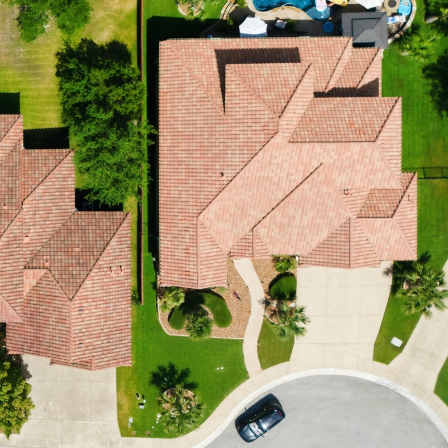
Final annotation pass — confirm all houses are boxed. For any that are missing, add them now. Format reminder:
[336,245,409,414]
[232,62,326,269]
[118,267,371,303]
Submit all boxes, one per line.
[159,36,419,288]
[0,113,132,371]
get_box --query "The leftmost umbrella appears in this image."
[238,13,267,39]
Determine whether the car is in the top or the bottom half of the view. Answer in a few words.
bottom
